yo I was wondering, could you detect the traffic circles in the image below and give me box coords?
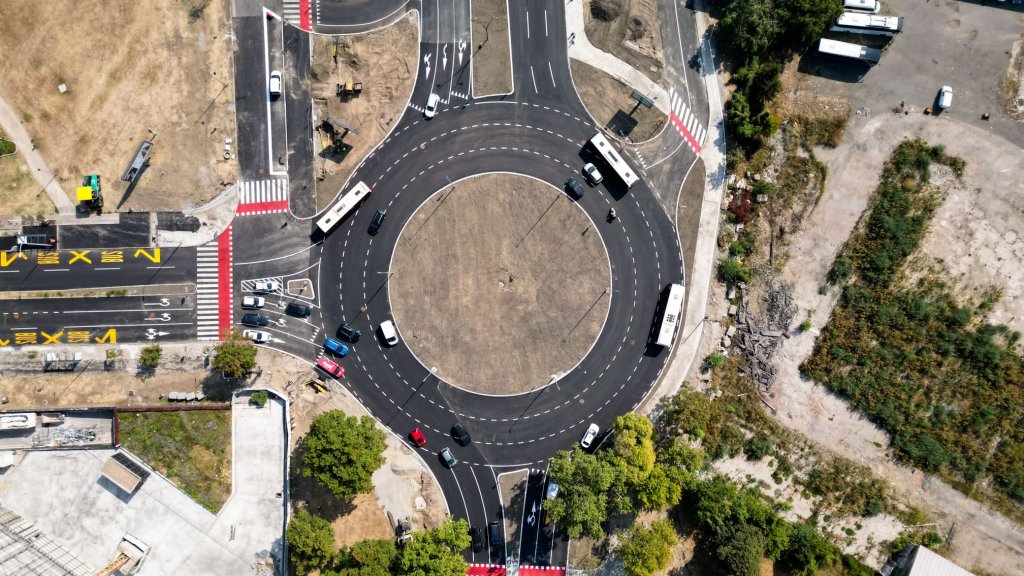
[316,100,684,468]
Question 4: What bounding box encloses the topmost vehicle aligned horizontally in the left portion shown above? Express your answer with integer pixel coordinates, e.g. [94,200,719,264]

[335,82,365,96]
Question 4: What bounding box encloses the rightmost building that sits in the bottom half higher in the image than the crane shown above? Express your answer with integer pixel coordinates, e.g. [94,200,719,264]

[100,443,160,494]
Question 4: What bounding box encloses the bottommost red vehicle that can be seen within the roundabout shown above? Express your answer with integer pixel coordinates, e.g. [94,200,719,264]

[411,427,426,446]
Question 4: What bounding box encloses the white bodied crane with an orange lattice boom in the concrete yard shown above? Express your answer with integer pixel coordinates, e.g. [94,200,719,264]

[94,530,151,576]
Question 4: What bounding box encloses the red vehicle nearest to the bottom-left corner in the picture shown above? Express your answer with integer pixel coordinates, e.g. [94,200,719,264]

[318,358,344,377]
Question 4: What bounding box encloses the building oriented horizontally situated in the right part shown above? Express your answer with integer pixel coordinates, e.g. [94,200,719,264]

[892,541,977,576]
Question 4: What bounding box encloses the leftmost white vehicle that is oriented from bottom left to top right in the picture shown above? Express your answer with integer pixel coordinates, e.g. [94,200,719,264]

[317,181,374,234]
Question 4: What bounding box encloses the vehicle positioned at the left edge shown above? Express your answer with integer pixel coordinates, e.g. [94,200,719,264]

[15,236,51,255]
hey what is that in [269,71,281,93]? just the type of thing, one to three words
vehicle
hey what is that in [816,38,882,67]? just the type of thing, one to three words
bus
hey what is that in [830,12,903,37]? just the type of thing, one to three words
bus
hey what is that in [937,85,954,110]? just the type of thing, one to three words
vehicle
